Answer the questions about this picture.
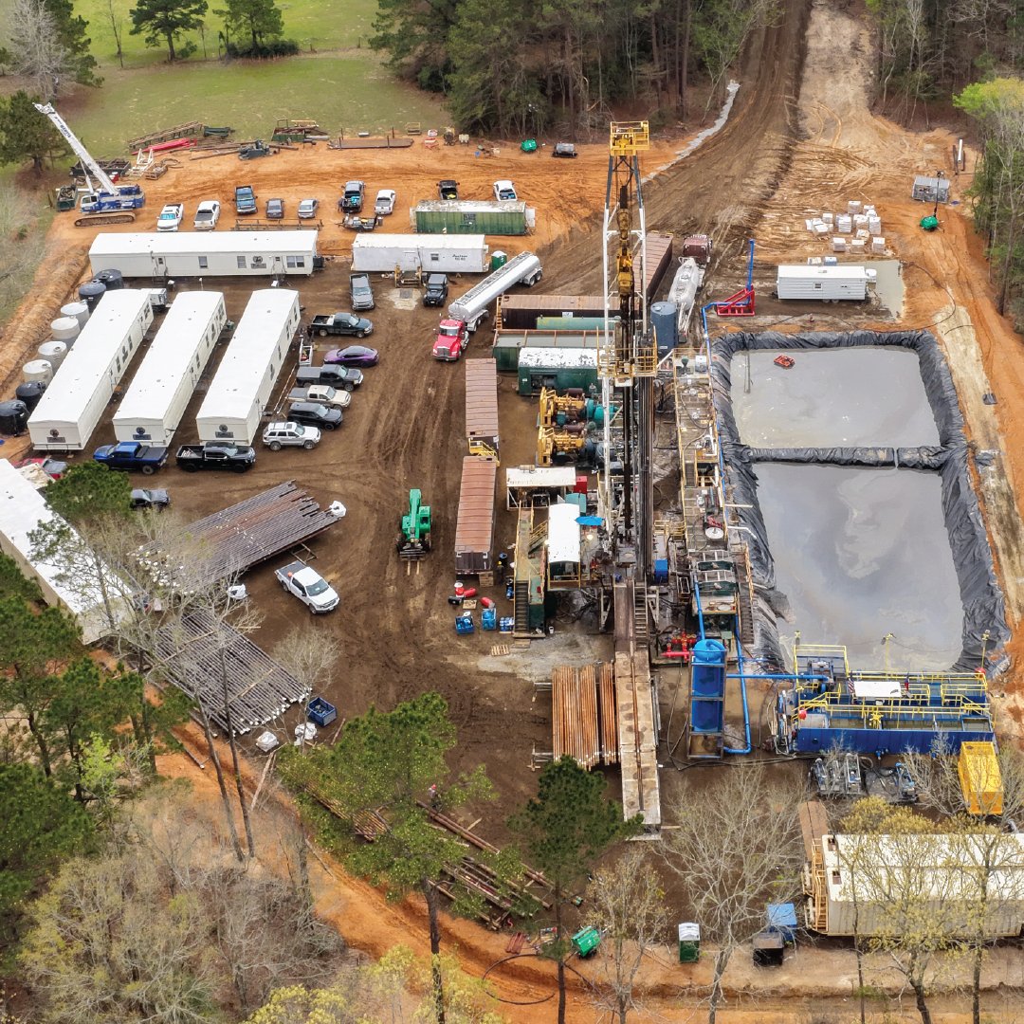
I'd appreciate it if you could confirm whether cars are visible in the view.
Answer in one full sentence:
Yes, a car can be made out from above.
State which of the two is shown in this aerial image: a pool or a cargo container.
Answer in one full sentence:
The one in the frame is a cargo container.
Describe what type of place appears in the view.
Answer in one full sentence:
What you see here is an industrial area.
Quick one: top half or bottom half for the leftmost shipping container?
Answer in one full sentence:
Seen from above, the leftmost shipping container lies in the top half of the view.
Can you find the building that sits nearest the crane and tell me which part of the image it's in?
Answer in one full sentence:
The building that sits nearest the crane sits in the top left section of the image.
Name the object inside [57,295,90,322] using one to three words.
water tank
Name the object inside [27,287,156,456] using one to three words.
building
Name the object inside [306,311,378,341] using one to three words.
truck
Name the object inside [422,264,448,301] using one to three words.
car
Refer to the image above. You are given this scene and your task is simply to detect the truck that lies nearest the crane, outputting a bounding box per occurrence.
[156,195,187,229]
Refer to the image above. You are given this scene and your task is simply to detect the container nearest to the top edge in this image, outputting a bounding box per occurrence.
[407,202,532,238]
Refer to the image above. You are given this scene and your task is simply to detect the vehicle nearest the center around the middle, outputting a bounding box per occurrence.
[395,488,432,572]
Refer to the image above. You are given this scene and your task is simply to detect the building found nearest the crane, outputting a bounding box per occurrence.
[88,232,321,288]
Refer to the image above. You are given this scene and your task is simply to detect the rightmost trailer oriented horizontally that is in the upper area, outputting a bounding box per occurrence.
[770,267,875,306]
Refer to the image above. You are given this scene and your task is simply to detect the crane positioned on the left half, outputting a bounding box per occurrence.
[28,100,146,228]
